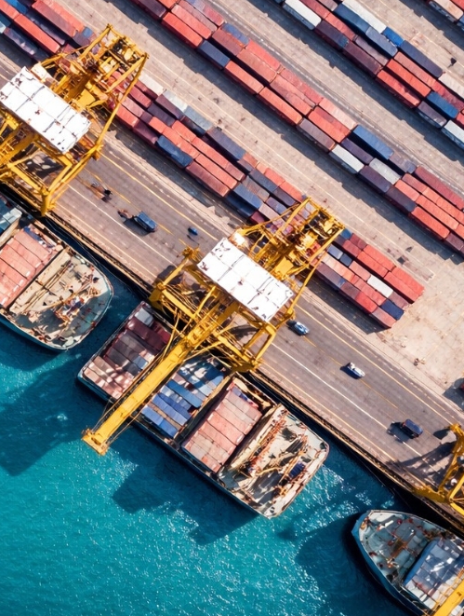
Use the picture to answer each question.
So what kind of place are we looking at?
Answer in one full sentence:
It's a port.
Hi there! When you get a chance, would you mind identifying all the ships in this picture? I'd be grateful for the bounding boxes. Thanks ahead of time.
[348,508,464,616]
[0,192,115,354]
[76,302,327,519]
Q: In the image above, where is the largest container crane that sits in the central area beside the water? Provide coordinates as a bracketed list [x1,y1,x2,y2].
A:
[76,182,342,460]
